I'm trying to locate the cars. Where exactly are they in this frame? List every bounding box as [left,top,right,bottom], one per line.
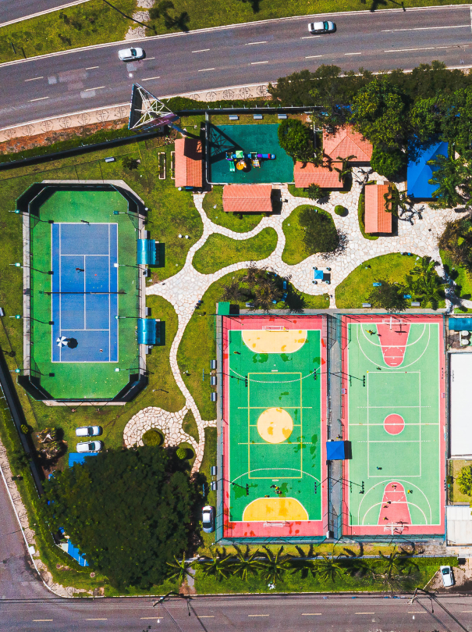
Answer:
[201,506,214,532]
[117,45,146,62]
[75,440,104,453]
[308,20,336,34]
[76,425,102,437]
[441,564,456,589]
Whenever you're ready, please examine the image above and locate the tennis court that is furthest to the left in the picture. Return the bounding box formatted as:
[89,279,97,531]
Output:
[23,179,146,406]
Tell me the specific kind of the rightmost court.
basketball court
